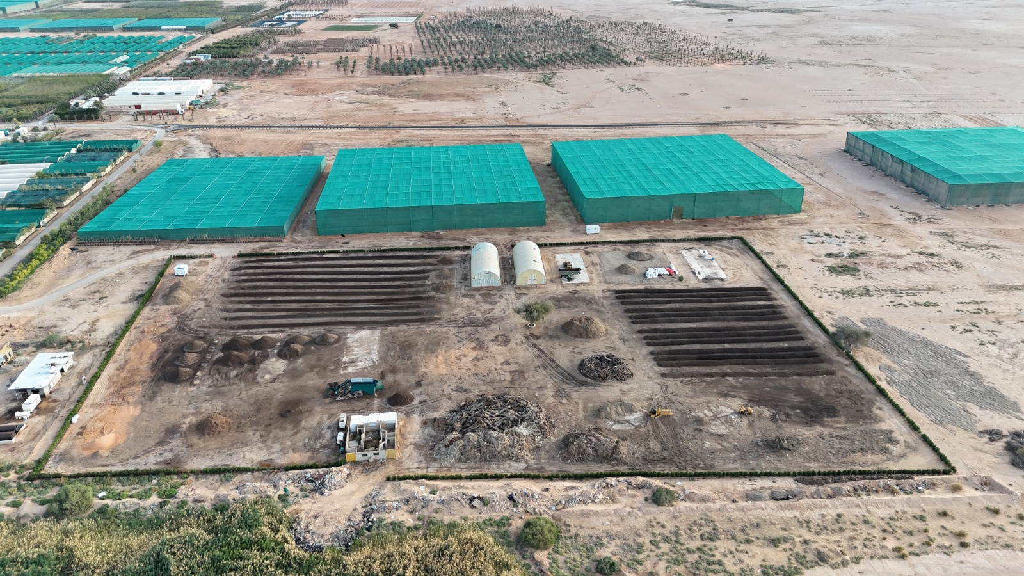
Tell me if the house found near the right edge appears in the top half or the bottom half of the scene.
top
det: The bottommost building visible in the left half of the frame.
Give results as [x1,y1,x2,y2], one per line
[344,409,400,463]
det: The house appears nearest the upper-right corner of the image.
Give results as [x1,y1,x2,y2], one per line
[841,125,1024,204]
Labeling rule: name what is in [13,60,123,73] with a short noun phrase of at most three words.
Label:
building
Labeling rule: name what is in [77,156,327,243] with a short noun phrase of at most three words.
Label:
house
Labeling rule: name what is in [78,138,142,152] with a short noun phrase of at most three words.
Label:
greenhouse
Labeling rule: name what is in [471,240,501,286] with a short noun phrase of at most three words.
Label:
hangar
